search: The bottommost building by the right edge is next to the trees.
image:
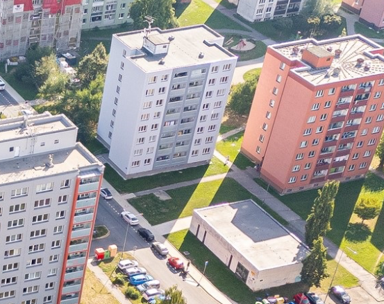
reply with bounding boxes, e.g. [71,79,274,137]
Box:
[240,38,384,194]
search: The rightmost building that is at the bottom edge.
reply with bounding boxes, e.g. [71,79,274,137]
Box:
[189,198,300,290]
